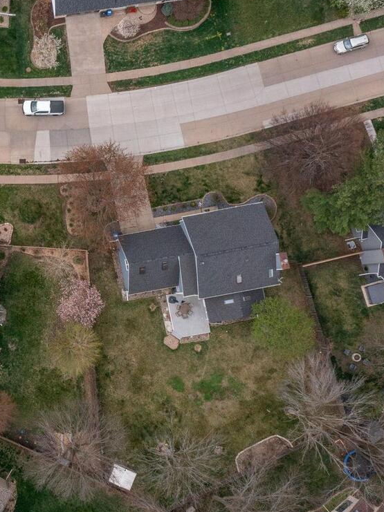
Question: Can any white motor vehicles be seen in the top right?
Yes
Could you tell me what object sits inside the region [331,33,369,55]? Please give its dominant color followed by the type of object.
white car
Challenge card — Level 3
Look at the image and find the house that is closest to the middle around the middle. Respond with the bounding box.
[110,202,290,325]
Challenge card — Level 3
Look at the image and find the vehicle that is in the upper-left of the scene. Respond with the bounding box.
[22,99,65,116]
